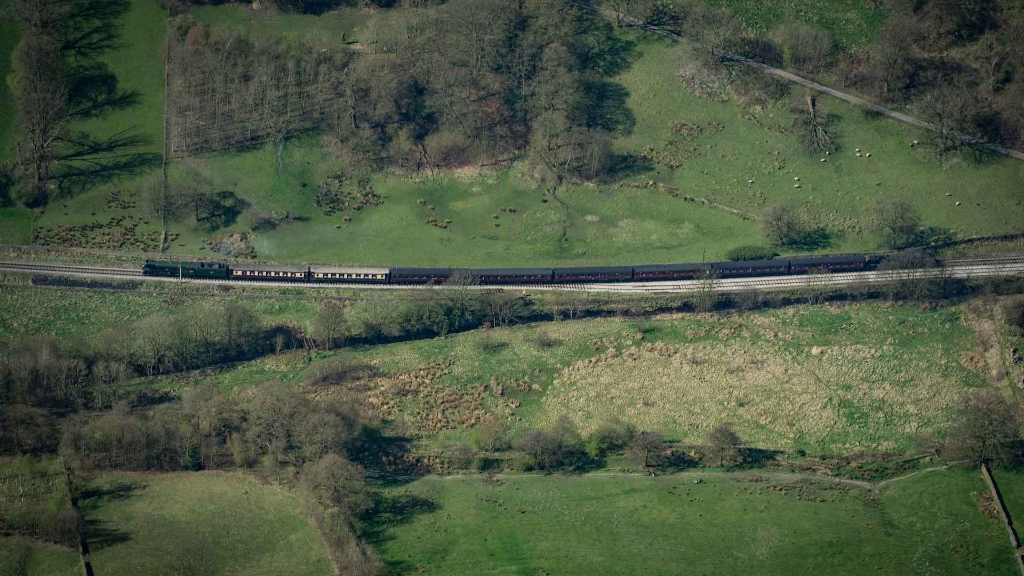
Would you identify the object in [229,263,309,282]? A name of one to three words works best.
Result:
rail car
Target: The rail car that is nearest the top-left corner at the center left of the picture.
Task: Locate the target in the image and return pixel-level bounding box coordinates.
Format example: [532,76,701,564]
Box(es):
[142,259,198,277]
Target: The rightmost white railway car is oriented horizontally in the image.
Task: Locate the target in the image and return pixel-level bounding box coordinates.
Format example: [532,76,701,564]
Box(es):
[310,267,391,284]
